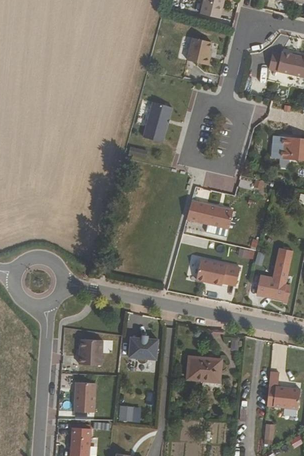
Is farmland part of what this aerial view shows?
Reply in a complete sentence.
Yes, the picture does contain farmland.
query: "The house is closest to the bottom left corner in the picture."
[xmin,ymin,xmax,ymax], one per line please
[70,428,92,456]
